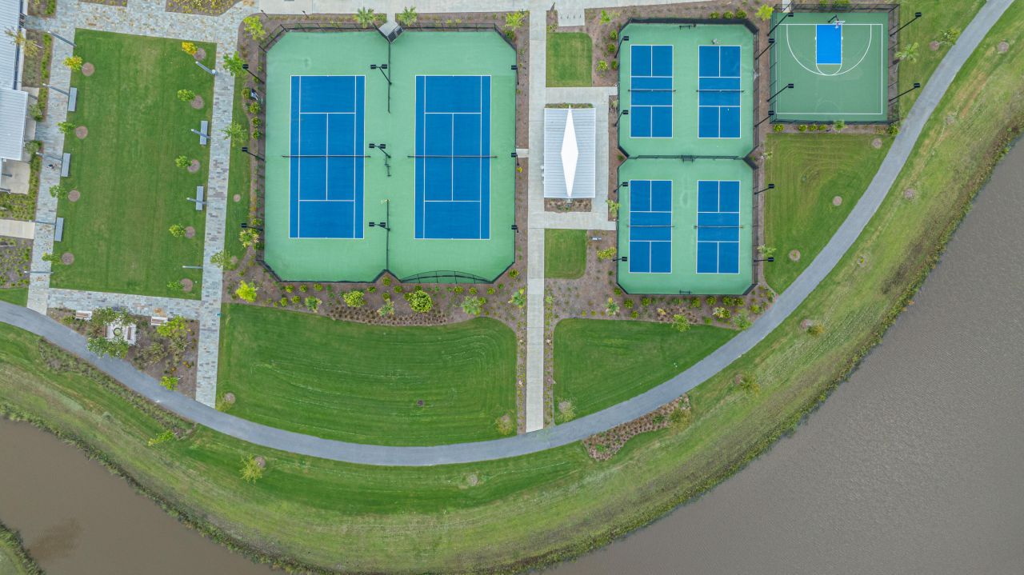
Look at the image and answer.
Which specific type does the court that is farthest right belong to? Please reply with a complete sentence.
It turns out the court that is farthest right is a basketball court.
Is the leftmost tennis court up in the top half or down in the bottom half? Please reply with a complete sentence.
It is in the top half that the leftmost tennis court appears.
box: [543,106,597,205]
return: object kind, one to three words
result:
building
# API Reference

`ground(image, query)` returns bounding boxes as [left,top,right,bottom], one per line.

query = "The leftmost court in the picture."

[264,31,388,281]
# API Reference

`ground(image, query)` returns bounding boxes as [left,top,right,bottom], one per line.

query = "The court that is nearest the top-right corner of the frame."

[770,12,888,123]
